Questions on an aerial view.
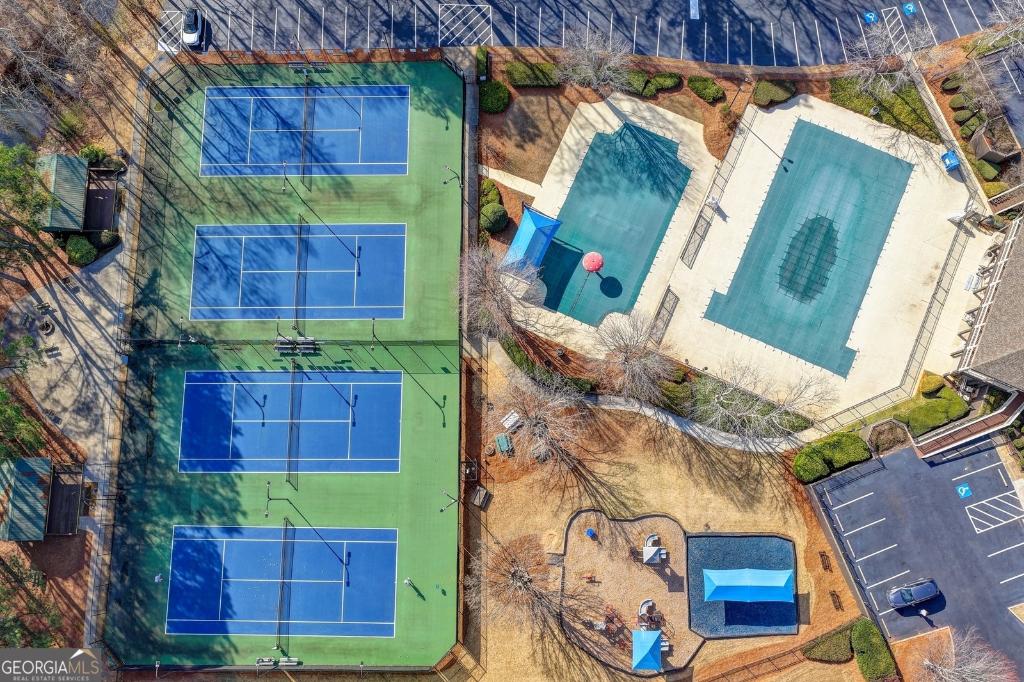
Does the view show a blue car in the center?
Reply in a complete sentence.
No, no blue car is visible in the center.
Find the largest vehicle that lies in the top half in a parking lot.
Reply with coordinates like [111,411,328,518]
[181,12,203,49]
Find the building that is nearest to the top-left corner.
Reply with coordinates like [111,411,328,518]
[35,153,118,237]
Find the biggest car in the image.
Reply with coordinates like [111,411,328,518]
[887,578,939,607]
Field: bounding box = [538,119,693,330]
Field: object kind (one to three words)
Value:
swimming pool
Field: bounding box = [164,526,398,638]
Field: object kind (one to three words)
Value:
tennis court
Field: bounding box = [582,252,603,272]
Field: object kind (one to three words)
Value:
fountain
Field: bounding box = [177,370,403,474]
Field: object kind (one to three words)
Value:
tennis court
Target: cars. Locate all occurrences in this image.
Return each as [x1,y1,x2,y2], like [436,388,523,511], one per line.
[181,12,203,49]
[887,578,939,607]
